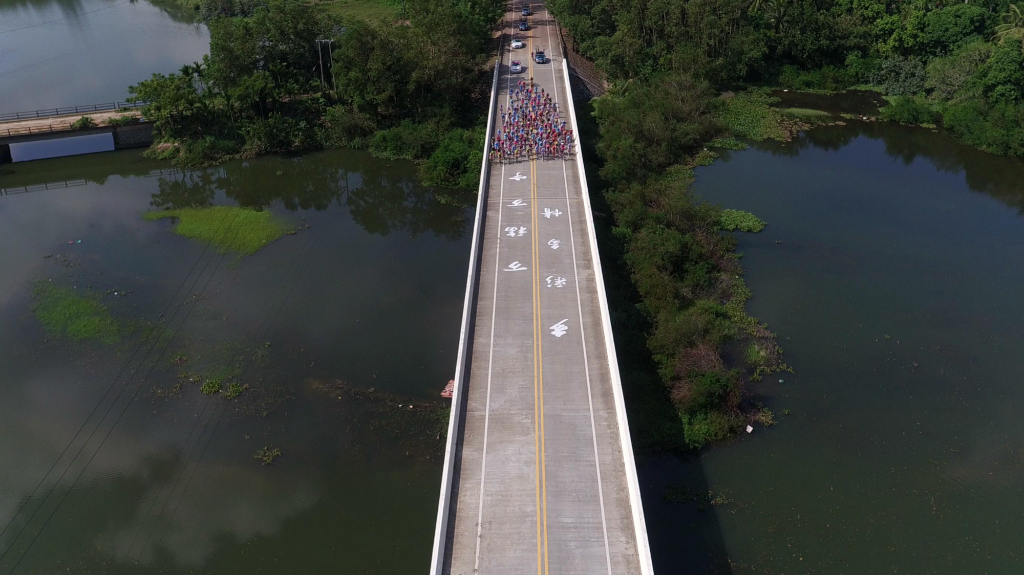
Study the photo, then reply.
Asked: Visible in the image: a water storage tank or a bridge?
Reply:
bridge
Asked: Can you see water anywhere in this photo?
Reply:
Yes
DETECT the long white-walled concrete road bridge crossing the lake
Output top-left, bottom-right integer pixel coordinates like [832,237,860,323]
[430,54,657,575]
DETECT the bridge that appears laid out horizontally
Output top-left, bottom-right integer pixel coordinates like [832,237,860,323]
[0,105,164,164]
